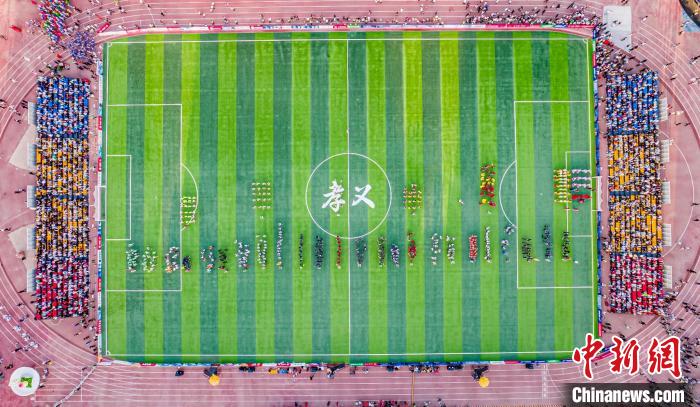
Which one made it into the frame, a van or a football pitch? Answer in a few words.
football pitch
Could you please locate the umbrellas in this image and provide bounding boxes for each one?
[208,375,219,385]
[479,376,489,386]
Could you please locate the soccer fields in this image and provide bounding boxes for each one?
[100,32,602,361]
